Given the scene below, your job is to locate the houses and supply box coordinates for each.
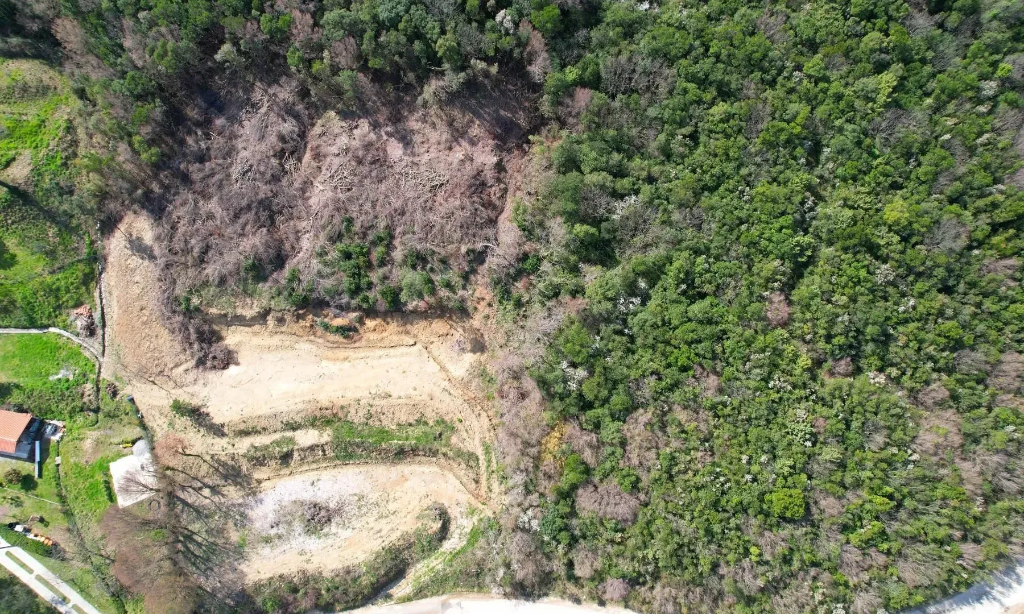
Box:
[0,407,42,454]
